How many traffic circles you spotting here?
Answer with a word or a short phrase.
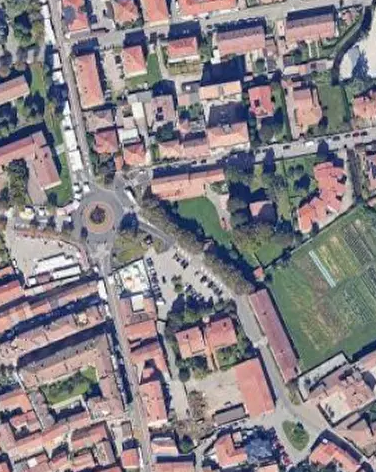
1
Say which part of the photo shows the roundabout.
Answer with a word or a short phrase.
left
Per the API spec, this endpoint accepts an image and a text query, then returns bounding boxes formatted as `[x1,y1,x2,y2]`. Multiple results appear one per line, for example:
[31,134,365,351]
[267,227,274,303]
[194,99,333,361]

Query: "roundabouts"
[72,189,126,243]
